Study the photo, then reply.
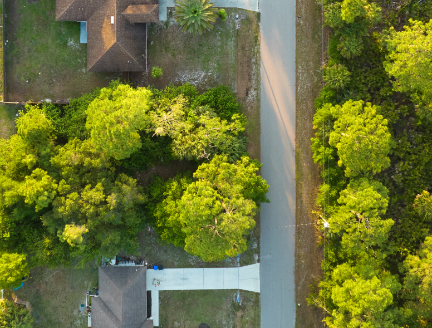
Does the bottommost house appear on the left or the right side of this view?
left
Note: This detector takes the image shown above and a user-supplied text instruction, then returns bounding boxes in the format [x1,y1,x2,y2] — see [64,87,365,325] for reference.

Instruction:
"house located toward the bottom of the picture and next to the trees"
[91,264,153,328]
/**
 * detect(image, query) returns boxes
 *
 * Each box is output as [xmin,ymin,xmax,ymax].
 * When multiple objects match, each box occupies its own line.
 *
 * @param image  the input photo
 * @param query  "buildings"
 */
[55,0,160,72]
[91,264,153,328]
